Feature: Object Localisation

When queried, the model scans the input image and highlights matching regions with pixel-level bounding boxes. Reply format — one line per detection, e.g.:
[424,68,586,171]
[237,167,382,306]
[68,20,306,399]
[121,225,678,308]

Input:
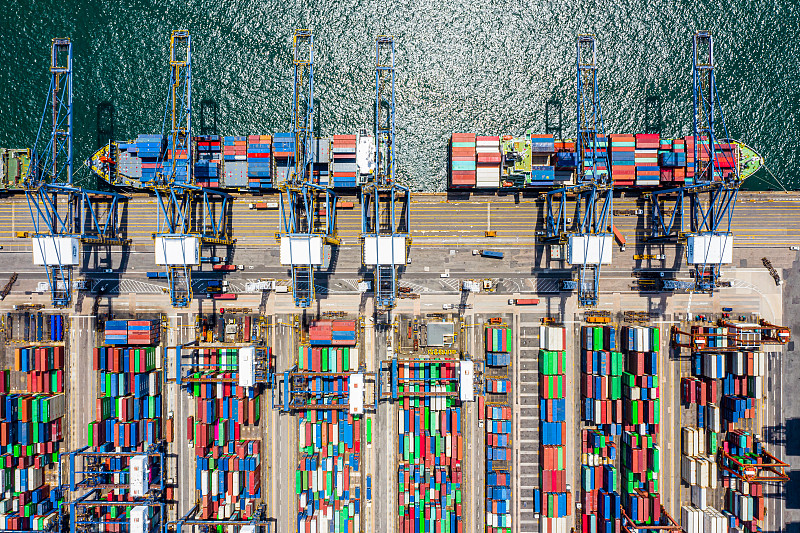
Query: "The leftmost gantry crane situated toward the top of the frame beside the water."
[24,39,135,309]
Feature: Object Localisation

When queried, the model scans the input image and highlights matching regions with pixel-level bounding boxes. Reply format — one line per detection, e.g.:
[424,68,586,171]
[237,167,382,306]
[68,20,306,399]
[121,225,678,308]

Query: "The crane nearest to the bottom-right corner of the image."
[720,449,791,483]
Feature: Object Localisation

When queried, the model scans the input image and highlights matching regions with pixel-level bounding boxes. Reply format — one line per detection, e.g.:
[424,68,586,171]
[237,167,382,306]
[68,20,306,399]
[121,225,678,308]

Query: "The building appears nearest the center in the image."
[427,323,455,346]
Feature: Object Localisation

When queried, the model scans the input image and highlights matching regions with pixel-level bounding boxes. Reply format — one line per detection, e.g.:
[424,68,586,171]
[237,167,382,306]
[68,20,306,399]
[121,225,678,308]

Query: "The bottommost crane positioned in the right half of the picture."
[620,507,685,533]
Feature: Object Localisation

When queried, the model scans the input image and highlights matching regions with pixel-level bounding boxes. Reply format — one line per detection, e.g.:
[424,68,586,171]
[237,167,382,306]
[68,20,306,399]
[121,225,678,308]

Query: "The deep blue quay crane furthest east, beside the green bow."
[634,32,737,295]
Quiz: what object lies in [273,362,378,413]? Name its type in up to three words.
container crane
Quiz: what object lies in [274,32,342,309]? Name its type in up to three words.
container crane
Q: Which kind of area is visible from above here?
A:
port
